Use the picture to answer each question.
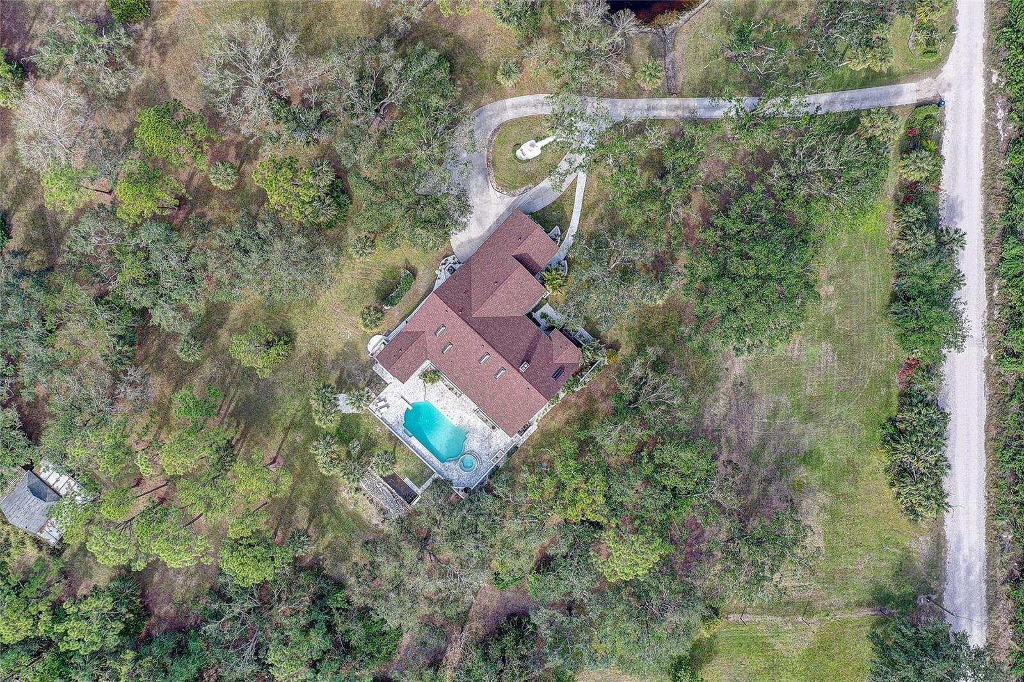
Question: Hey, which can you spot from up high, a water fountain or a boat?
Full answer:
There is a water fountain in the scene.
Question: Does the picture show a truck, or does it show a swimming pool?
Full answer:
Looking from above, you can make out a swimming pool.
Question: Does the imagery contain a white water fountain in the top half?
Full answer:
Yes, a white water fountain can be seen in the top half.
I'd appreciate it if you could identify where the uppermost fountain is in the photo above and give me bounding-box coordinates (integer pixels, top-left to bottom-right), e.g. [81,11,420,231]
[516,136,563,160]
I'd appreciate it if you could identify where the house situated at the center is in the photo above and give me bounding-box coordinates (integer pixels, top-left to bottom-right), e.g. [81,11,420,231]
[376,208,582,437]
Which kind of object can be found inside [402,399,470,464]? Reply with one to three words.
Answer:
swimming pool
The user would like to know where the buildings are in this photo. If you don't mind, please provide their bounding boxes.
[376,208,582,437]
[0,471,66,534]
